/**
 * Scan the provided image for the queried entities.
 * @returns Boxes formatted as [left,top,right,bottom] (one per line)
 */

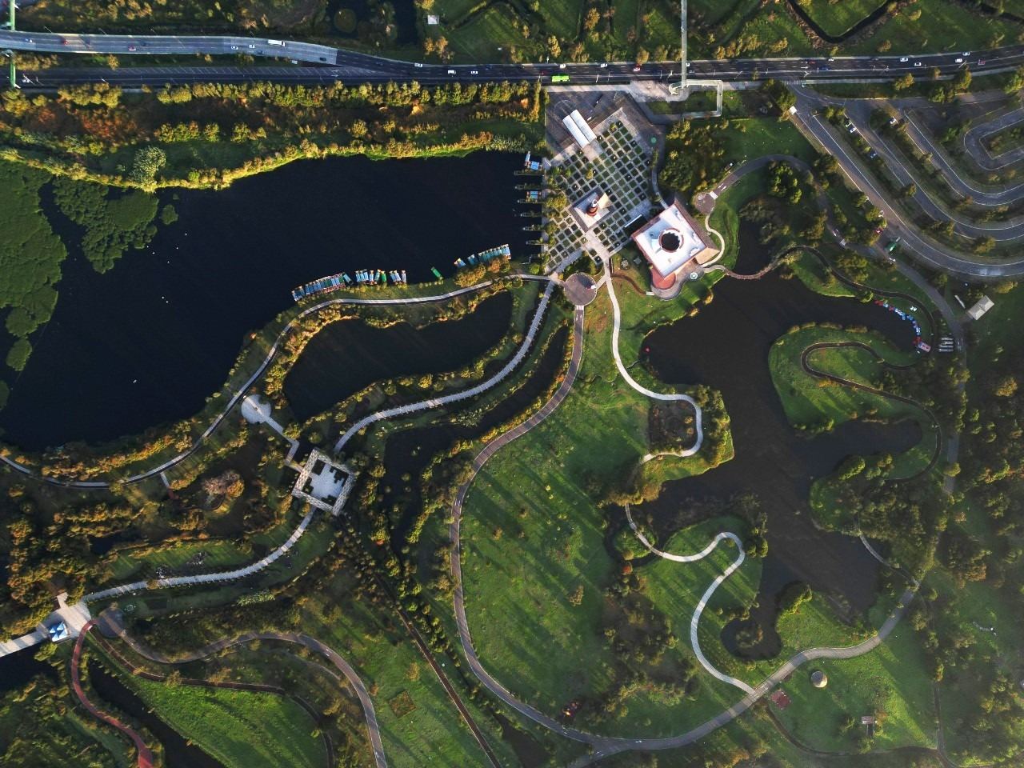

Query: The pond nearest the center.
[283,290,512,424]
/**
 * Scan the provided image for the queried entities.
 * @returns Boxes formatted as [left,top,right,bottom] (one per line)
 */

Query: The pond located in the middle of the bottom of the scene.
[484,705,553,768]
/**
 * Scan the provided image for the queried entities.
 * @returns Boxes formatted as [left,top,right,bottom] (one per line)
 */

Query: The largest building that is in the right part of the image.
[630,199,721,280]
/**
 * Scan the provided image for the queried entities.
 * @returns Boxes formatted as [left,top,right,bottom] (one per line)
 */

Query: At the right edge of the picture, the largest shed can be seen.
[969,295,997,320]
